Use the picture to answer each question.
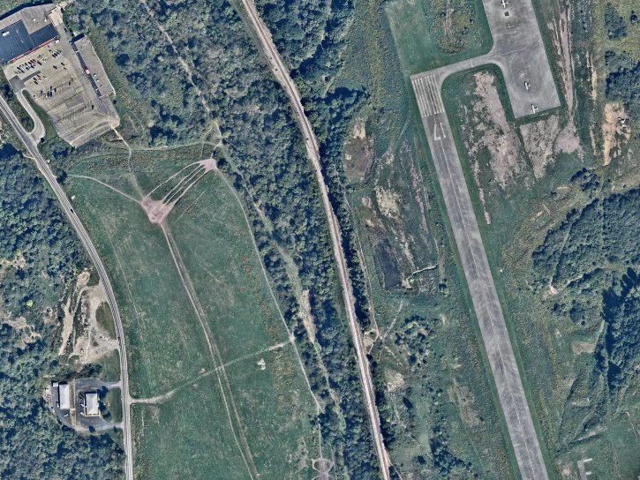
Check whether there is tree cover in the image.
Yes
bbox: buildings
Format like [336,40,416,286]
[58,384,70,409]
[71,34,114,97]
[0,3,58,64]
[85,393,98,415]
